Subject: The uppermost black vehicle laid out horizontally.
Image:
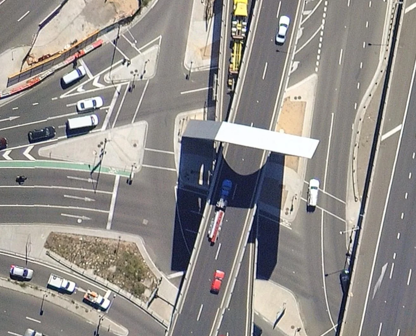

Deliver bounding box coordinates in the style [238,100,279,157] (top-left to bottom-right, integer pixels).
[28,126,56,142]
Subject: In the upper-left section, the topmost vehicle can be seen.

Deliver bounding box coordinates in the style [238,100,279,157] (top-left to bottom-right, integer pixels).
[59,65,88,87]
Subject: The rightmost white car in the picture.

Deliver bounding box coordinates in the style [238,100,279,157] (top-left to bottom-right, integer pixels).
[306,178,320,208]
